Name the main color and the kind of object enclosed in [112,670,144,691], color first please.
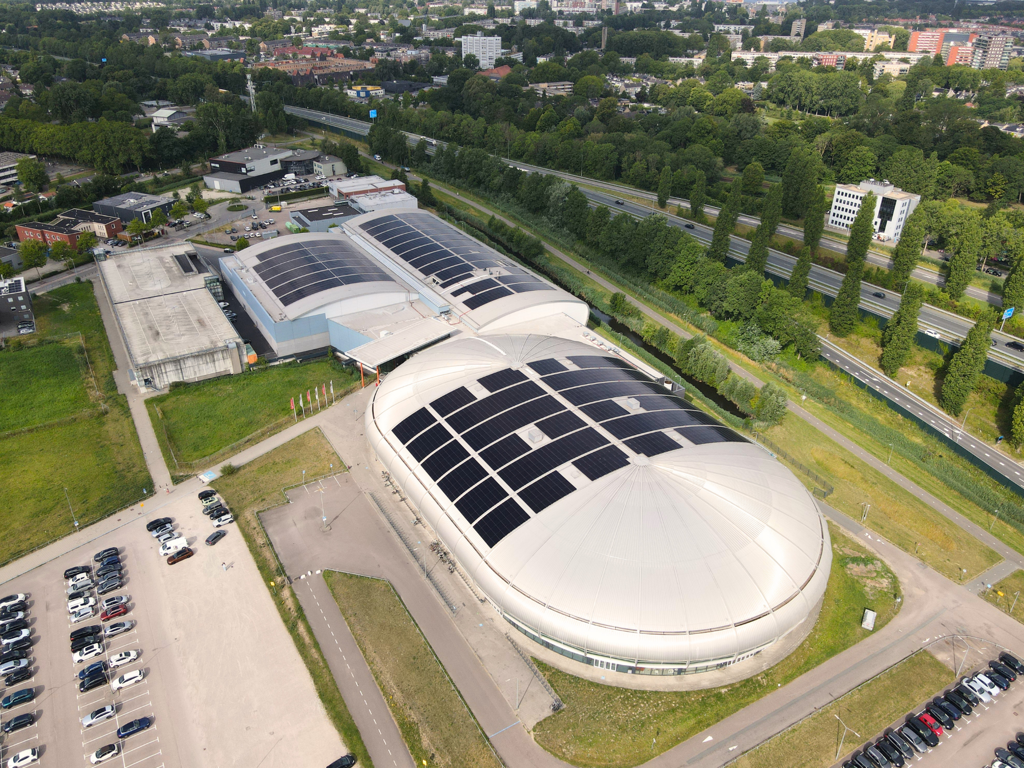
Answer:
white car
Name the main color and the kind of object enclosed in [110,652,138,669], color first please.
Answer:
white car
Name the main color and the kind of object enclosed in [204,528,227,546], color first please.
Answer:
gray car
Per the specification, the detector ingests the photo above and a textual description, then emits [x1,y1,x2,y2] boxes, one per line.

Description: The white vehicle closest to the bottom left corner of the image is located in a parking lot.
[6,748,38,768]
